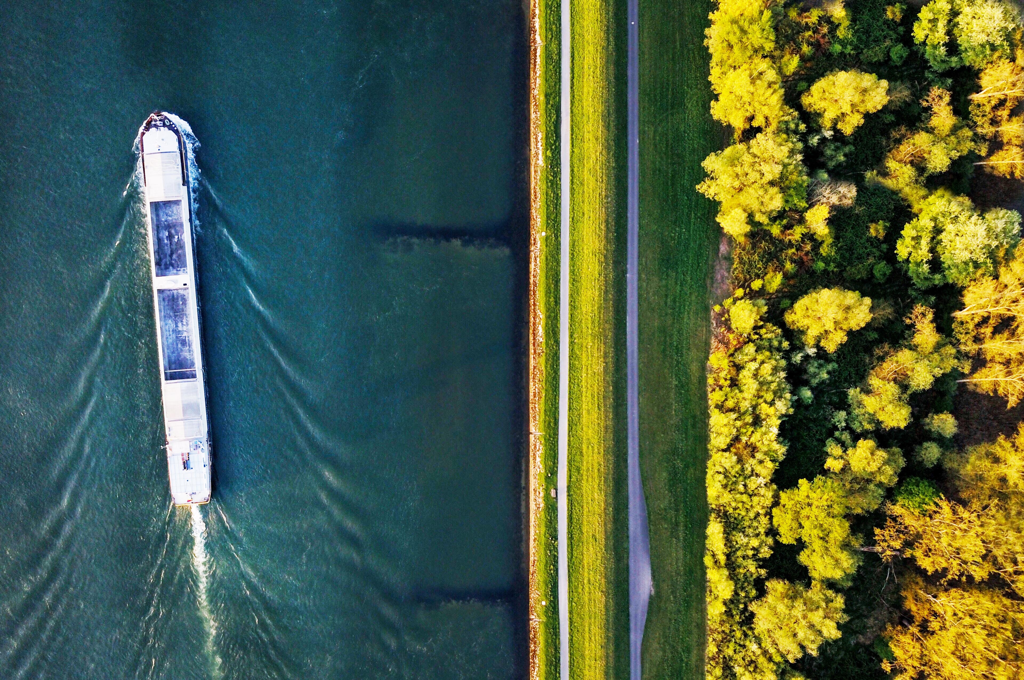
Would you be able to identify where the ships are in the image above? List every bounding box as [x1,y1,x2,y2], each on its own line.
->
[143,113,214,505]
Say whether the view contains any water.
Yes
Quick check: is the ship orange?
No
